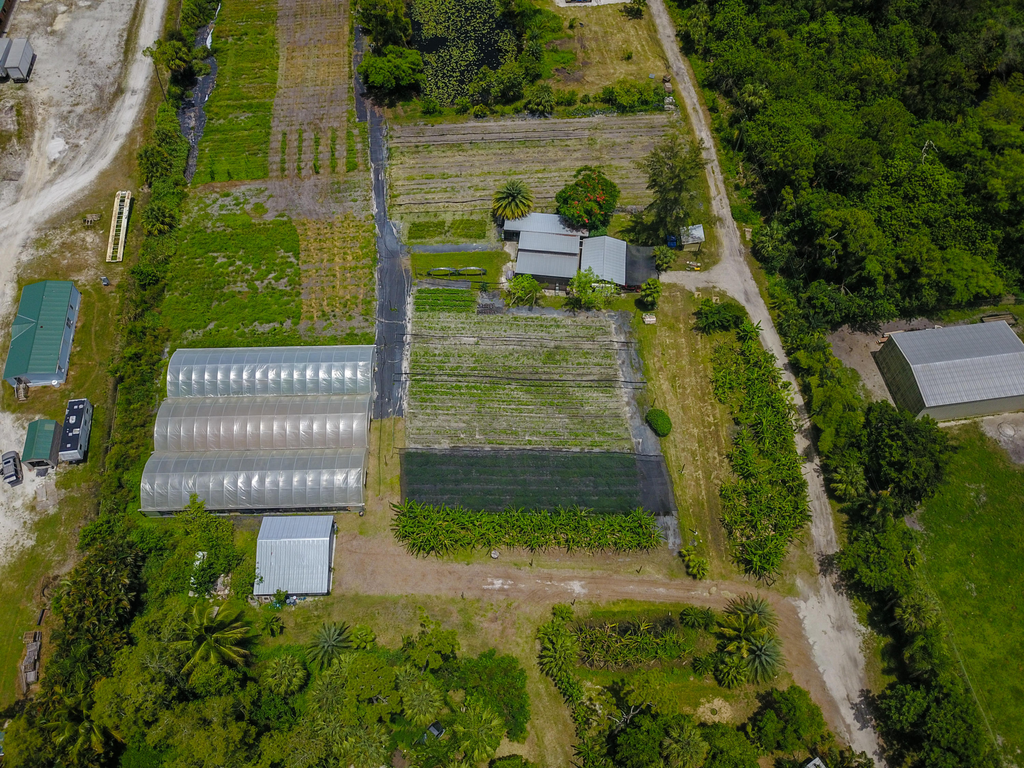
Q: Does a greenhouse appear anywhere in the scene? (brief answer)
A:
Yes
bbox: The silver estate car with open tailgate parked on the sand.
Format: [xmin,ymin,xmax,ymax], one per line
[0,449,20,488]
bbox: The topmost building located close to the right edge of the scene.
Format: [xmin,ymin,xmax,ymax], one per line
[880,320,1024,419]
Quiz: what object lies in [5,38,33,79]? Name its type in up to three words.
trailer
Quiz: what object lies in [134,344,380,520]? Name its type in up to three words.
greenhouse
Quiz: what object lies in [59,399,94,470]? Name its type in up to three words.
camper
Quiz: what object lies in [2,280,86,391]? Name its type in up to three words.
house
